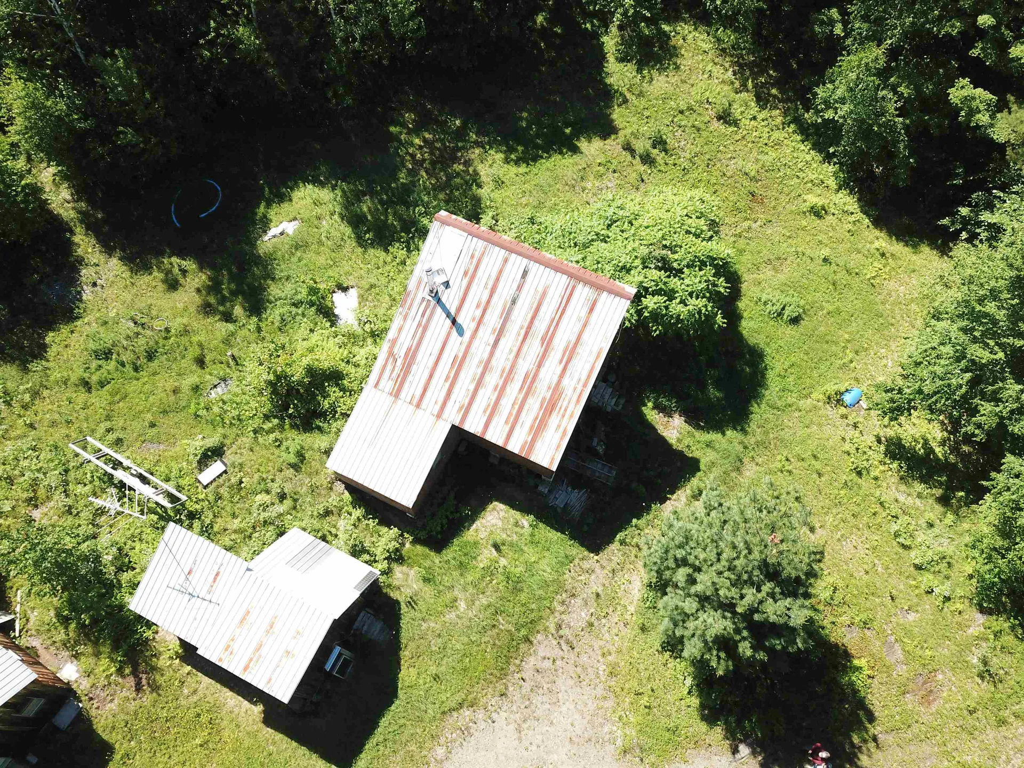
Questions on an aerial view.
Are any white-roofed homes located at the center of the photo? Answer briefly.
Yes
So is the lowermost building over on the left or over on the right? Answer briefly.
left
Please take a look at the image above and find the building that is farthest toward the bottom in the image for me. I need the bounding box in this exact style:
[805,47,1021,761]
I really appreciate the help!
[0,632,71,757]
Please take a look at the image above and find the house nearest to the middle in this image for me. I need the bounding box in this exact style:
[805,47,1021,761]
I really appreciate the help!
[332,209,637,517]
